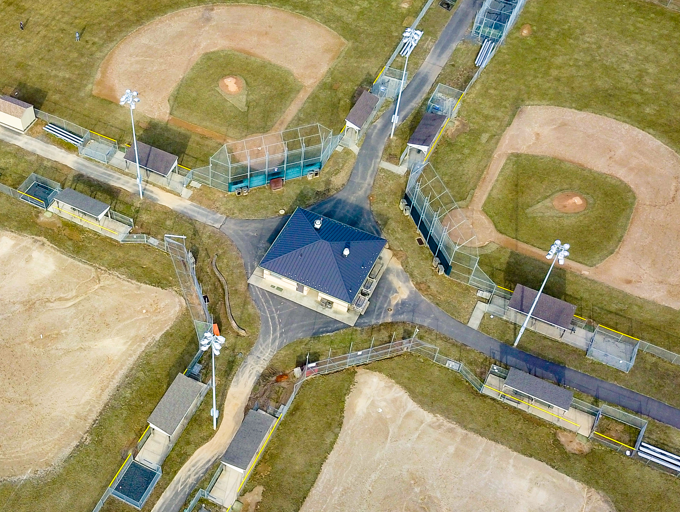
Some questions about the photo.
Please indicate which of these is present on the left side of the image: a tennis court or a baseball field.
baseball field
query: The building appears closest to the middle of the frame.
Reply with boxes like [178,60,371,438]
[256,206,389,312]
